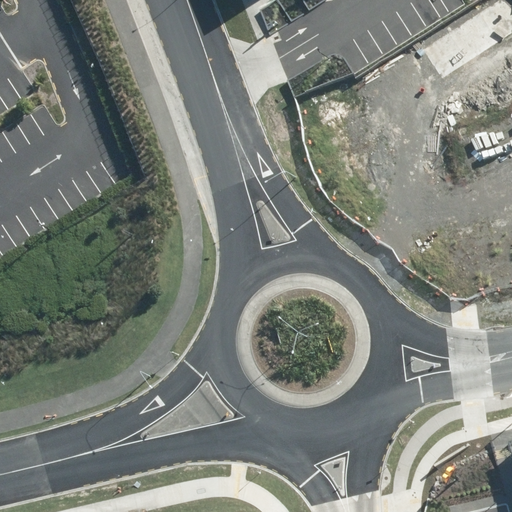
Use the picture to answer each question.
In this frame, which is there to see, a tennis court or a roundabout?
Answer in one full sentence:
Of the two, only a roundabout appears.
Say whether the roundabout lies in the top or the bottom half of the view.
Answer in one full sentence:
The roundabout is in the bottom half of the image.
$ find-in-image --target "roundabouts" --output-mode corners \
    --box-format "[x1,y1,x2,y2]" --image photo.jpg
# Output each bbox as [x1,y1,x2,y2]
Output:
[36,164,454,506]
